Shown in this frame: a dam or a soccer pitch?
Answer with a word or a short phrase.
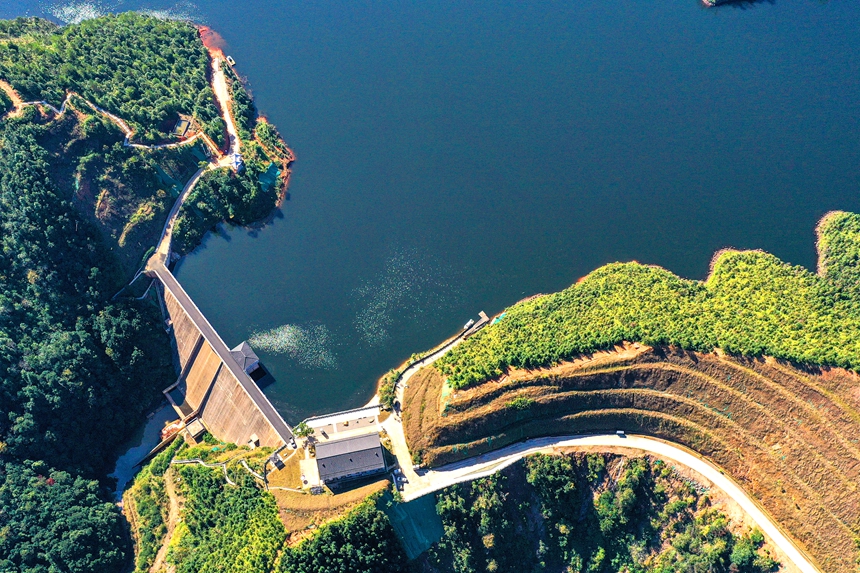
dam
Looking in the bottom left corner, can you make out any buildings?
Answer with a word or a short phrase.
Yes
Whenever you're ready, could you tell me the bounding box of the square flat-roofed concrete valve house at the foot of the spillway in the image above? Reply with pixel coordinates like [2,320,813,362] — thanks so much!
[186,418,211,441]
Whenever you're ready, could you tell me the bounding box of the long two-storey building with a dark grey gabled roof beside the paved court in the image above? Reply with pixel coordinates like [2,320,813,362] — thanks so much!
[317,434,384,477]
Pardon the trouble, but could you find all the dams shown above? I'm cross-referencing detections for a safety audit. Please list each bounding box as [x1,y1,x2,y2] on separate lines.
[154,263,295,450]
